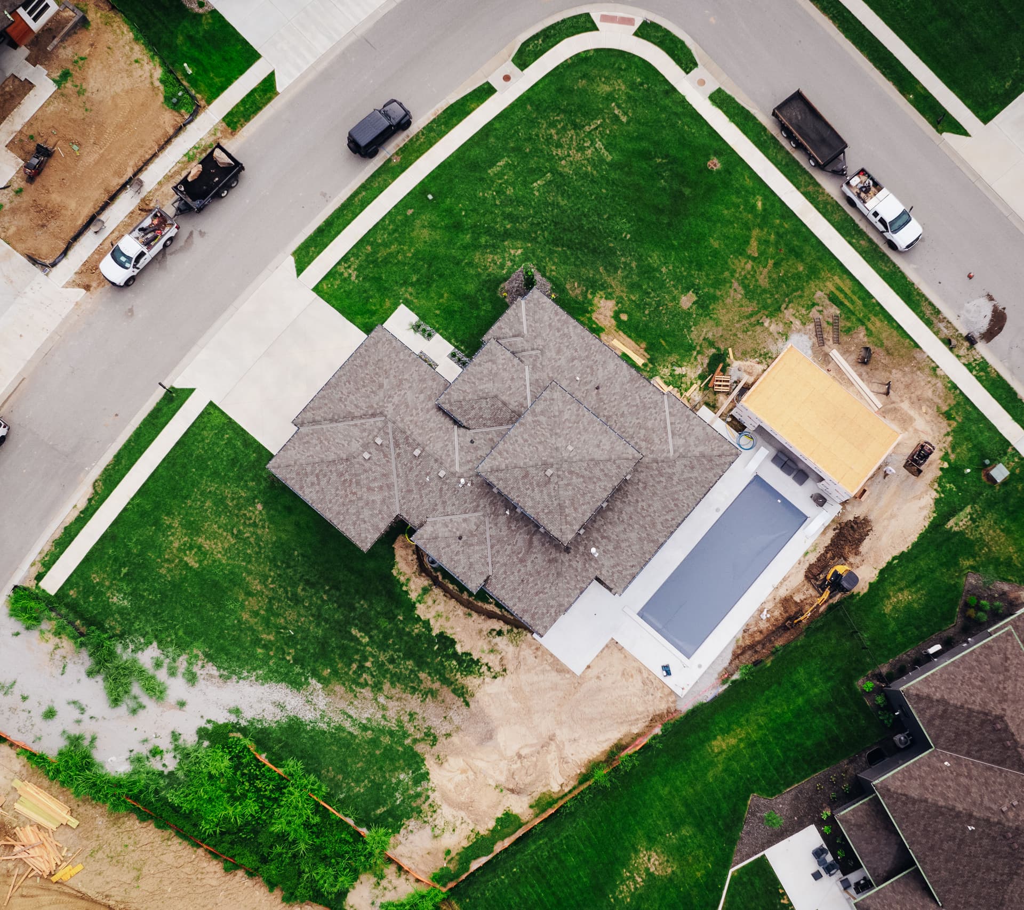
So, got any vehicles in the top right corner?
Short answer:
Yes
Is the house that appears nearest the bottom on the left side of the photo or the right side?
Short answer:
right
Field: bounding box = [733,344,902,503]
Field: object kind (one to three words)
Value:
building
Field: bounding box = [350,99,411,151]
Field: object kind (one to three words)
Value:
car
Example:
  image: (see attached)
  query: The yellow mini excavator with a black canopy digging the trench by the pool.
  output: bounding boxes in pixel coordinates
[787,567,863,629]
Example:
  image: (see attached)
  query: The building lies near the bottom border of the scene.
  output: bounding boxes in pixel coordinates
[831,604,1024,910]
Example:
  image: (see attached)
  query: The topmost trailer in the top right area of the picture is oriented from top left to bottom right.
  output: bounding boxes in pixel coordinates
[770,90,847,176]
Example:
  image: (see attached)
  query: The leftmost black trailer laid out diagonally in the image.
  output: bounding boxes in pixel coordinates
[173,145,244,218]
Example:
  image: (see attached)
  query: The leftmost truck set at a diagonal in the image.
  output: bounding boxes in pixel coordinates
[105,210,181,290]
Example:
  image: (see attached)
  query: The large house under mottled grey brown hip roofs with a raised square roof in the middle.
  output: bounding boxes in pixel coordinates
[266,285,743,638]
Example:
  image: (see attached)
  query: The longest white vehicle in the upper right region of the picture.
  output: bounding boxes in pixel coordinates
[840,170,919,254]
